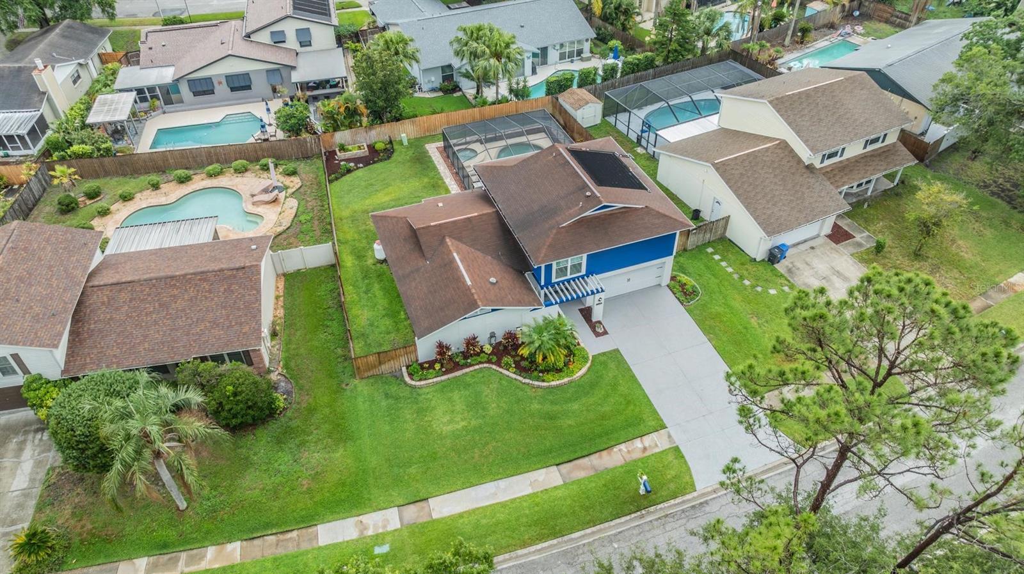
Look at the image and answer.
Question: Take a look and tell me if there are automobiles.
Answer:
No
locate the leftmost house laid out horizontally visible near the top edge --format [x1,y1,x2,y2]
[114,0,350,107]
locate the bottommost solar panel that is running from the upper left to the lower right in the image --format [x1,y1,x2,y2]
[564,144,649,192]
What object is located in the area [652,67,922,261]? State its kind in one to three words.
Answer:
house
